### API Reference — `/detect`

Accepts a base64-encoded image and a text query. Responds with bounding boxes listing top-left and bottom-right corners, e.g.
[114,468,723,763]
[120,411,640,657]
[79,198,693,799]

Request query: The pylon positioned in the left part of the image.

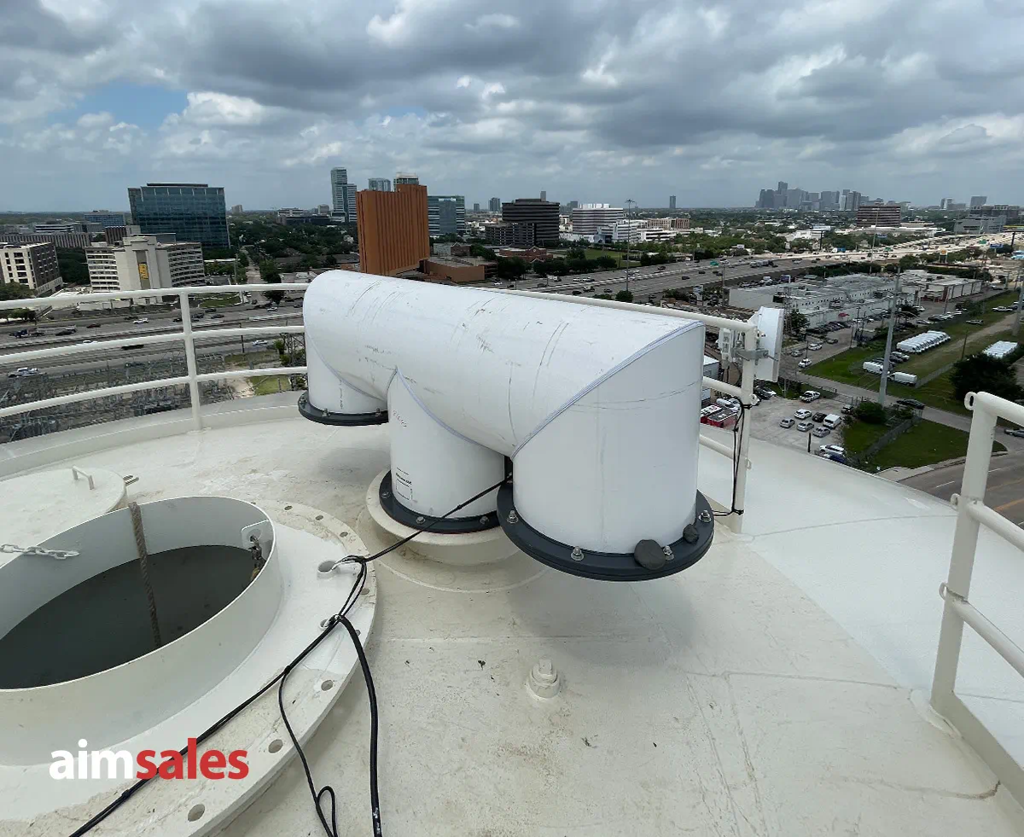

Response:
[281,339,297,387]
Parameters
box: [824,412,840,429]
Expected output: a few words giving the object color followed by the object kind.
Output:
white vehicle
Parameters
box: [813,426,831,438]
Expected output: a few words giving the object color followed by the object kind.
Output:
gray vehicle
